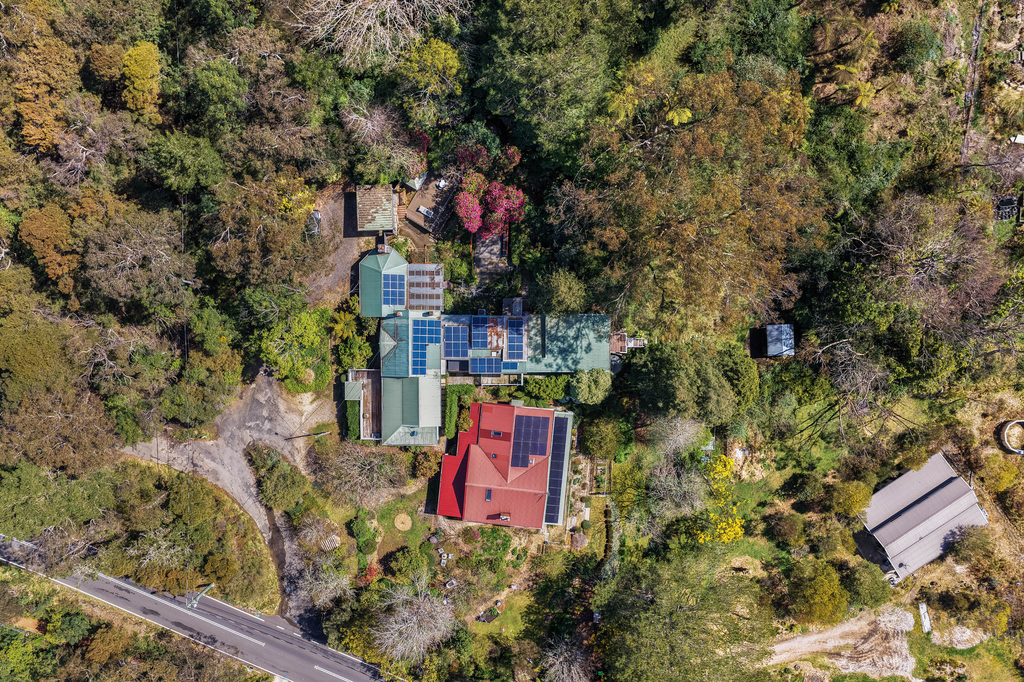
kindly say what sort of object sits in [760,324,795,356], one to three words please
shed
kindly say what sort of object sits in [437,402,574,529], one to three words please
house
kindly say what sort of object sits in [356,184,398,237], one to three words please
shed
